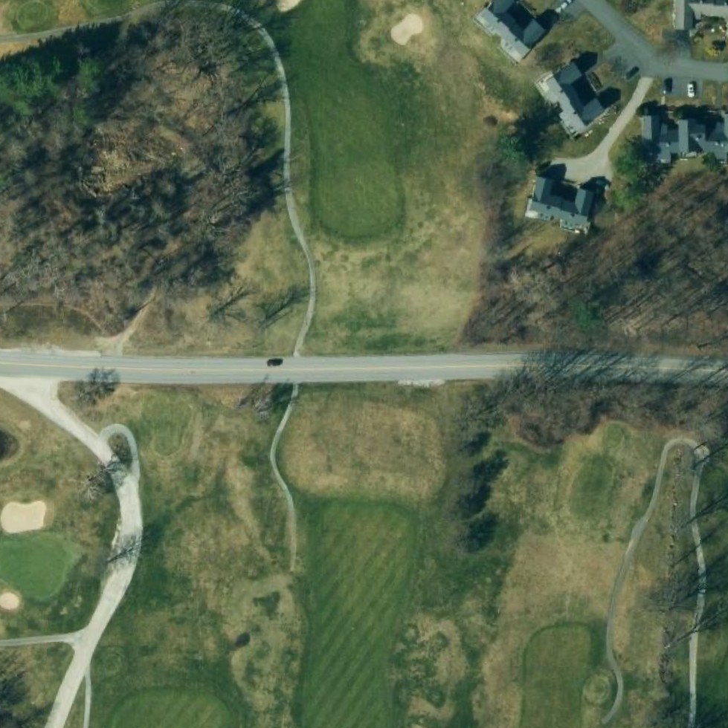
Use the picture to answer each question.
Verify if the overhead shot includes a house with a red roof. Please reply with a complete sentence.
No, no house with a red roof can be seen from above.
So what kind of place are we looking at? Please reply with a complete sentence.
The area seen from above is a golf course.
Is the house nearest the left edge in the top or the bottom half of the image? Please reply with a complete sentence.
You can find the house nearest the left edge in the top half.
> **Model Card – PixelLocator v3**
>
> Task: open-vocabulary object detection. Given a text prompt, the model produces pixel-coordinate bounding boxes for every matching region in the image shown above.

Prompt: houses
[526,174,596,235]
[535,53,608,138]
[474,0,549,65]
[642,111,728,163]
[673,0,728,29]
